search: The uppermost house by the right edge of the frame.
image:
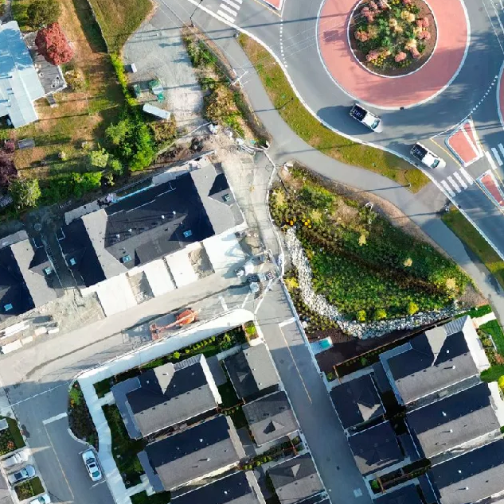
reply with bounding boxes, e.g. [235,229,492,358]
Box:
[377,313,491,405]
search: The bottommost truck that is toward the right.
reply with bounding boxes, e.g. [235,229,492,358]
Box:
[409,141,445,169]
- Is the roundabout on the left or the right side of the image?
right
